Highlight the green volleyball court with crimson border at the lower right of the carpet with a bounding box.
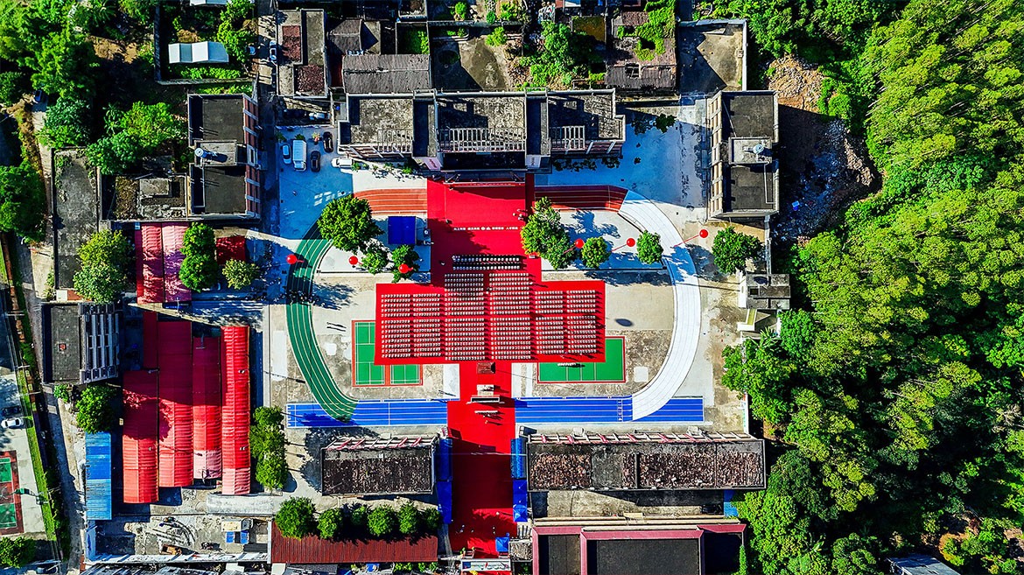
[537,336,626,383]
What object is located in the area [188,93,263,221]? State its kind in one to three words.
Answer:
building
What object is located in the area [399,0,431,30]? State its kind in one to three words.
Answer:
house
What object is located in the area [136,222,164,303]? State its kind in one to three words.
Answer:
shed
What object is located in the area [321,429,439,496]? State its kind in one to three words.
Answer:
building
